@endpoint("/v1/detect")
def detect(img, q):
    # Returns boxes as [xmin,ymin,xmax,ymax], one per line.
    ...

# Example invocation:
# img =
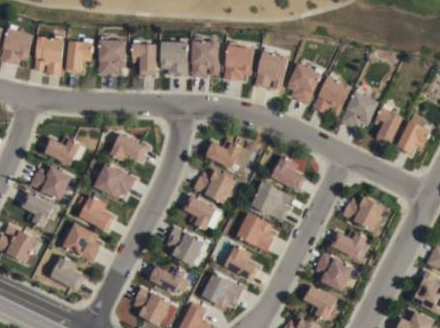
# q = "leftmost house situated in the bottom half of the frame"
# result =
[0,223,39,264]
